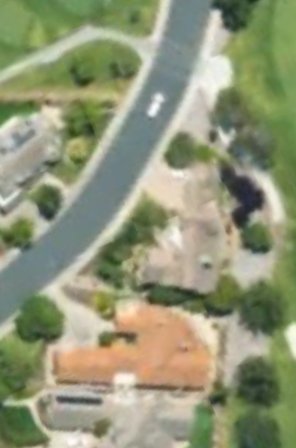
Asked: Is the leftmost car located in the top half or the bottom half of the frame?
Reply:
top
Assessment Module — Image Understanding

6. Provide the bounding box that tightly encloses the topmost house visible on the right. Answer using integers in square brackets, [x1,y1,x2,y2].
[140,174,226,291]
